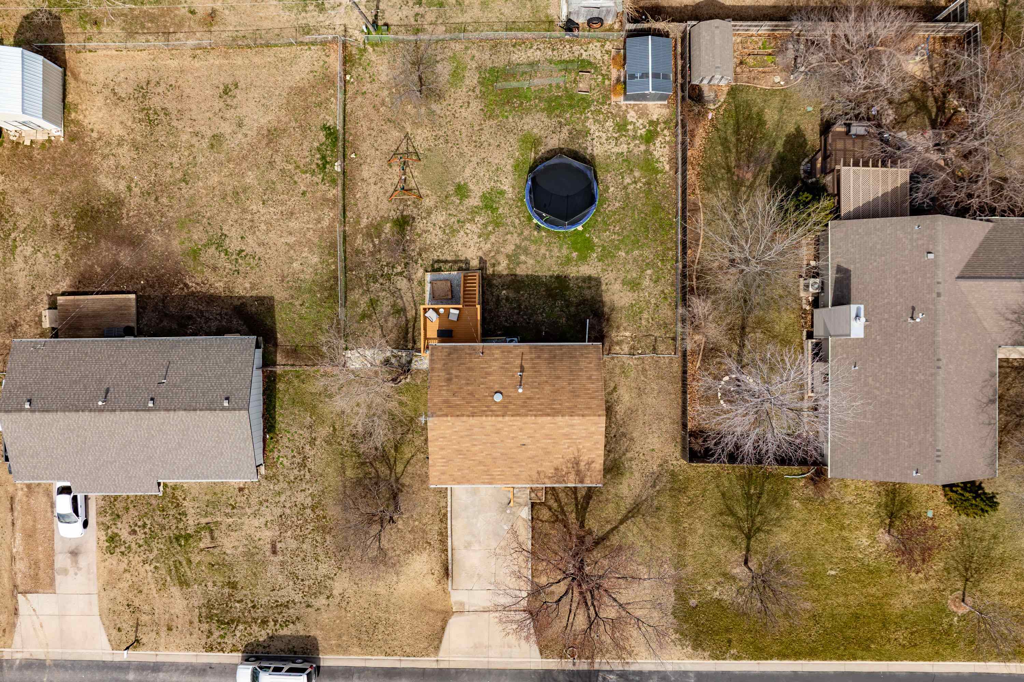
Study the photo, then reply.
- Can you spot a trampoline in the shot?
Yes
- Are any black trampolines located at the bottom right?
No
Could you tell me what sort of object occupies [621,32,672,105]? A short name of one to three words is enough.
shed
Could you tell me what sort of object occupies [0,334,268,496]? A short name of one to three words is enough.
house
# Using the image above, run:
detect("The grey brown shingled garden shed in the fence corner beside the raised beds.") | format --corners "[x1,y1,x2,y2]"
[688,16,733,90]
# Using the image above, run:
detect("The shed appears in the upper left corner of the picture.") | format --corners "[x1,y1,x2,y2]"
[0,40,62,137]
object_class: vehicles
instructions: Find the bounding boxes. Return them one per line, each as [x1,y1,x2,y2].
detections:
[237,661,317,682]
[49,484,89,541]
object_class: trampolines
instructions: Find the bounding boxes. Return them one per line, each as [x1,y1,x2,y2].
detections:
[524,154,599,236]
